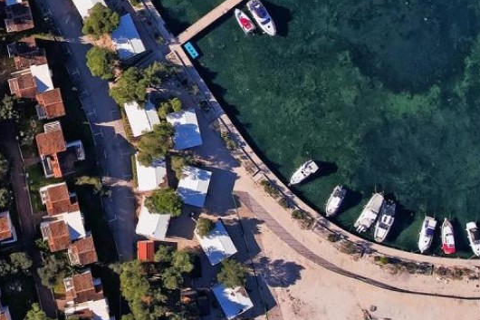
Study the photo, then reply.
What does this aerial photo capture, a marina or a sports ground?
marina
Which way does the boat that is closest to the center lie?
on a diagonal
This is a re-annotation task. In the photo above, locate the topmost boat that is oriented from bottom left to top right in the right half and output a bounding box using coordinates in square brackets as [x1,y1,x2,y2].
[289,157,319,186]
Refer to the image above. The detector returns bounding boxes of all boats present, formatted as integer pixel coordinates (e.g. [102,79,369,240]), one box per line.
[465,218,480,256]
[289,157,319,186]
[353,192,383,232]
[245,0,280,41]
[376,198,398,243]
[418,214,438,254]
[441,219,456,256]
[325,182,346,217]
[235,10,255,34]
